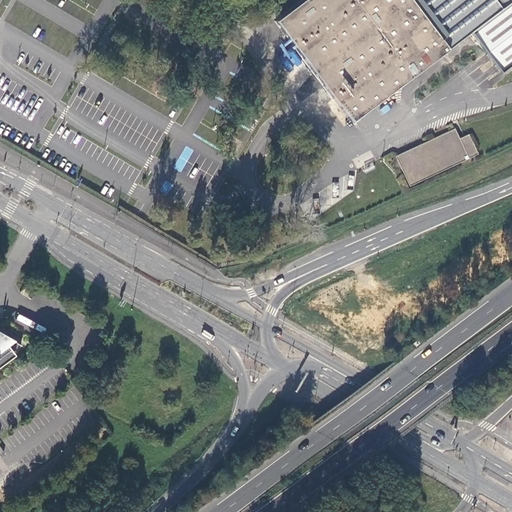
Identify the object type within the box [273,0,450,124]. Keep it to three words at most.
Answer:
building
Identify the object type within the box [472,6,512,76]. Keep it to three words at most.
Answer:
building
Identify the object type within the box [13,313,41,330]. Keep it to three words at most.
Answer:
vehicle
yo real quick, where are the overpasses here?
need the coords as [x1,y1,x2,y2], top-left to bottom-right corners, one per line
[319,352,445,469]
